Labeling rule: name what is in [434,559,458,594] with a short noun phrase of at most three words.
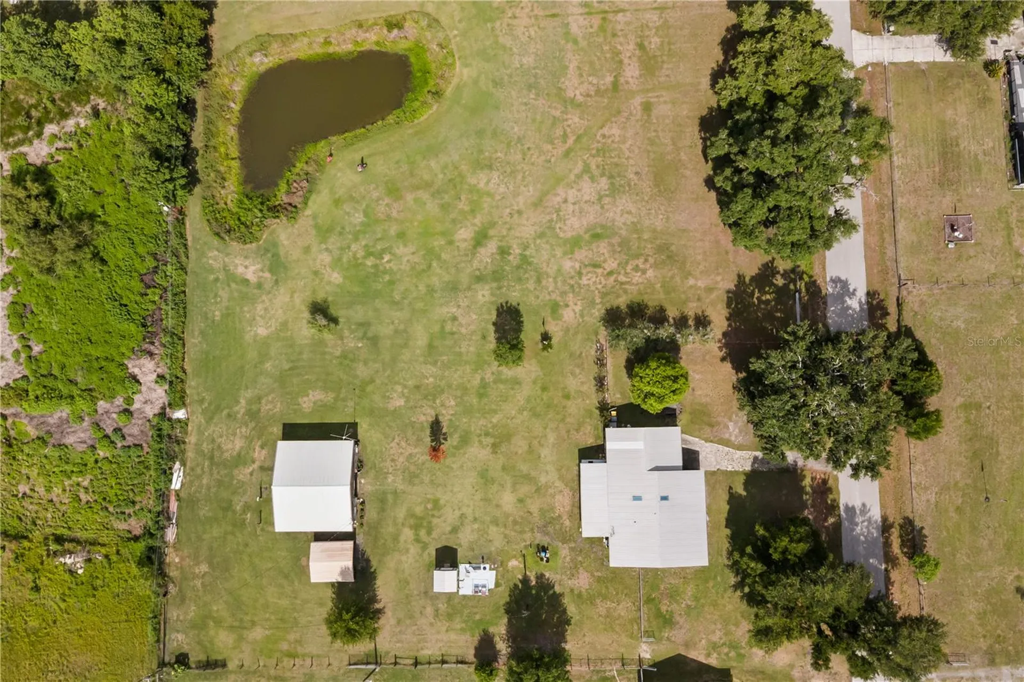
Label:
shed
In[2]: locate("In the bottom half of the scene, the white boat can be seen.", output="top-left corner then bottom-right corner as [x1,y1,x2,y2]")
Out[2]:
[171,465,185,491]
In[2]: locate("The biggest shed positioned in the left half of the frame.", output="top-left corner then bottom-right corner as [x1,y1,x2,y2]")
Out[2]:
[272,440,357,532]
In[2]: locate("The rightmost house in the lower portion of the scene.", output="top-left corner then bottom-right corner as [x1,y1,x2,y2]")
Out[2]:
[579,426,709,571]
